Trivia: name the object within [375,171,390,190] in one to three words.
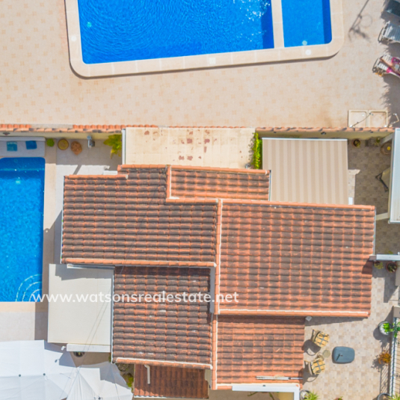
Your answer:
umbrella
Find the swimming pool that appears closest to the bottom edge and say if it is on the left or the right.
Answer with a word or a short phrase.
left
